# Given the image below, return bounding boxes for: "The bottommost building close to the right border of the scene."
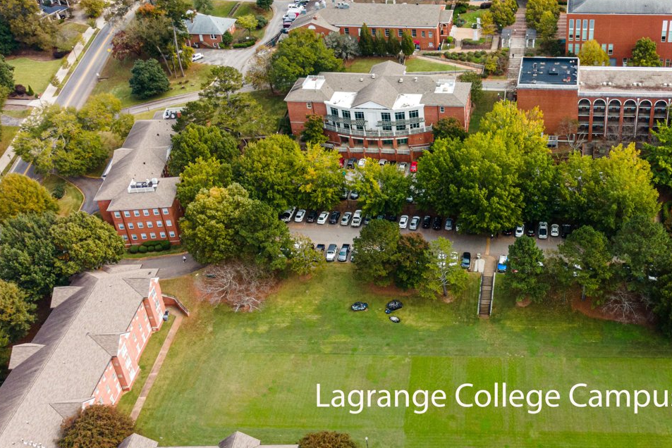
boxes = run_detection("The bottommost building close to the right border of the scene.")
[517,64,672,139]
